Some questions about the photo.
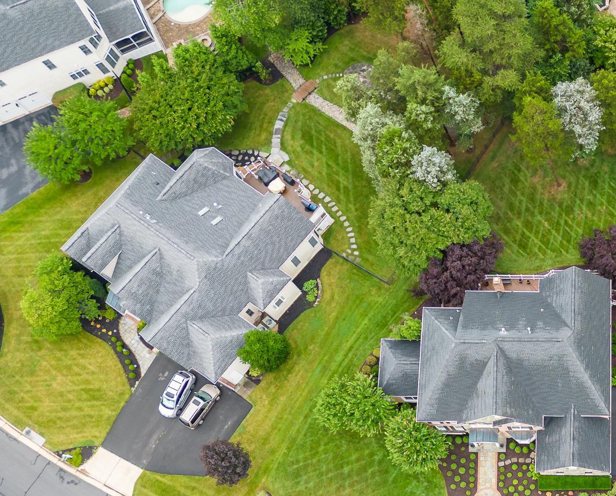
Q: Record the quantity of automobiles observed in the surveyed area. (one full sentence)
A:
There are 2 automobiles in the image.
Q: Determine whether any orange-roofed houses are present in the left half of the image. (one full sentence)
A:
No, in the left half of the image there is no orange-roofed house.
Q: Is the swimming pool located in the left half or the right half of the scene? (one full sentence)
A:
It is on the left.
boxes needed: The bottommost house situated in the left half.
[60,145,340,393]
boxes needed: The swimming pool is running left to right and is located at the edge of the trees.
[161,0,208,22]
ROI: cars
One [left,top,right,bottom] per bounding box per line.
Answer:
[162,371,196,418]
[181,387,219,431]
